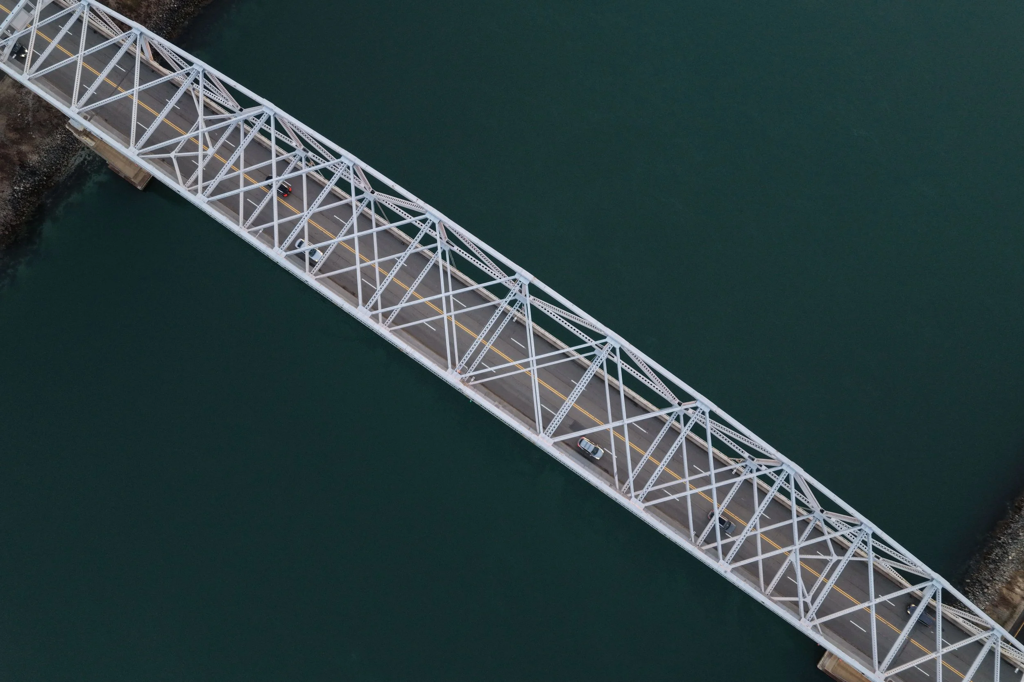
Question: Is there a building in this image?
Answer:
No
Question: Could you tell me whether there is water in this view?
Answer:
Yes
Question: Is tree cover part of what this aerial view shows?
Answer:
No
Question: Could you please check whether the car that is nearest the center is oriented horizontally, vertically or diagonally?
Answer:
diagonally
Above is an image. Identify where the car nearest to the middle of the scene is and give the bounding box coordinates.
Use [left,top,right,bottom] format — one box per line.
[576,437,605,461]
